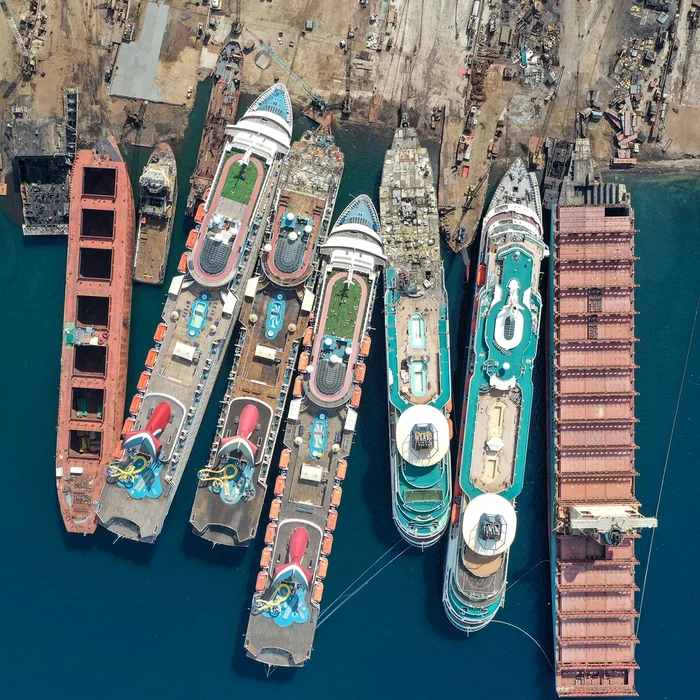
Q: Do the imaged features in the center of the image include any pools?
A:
Yes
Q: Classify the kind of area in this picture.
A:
port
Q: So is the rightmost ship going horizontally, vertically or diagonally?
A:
vertically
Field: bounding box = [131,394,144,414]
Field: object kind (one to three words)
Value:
boat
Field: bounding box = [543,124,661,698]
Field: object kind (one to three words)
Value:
ship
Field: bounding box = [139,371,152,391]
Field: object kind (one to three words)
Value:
boat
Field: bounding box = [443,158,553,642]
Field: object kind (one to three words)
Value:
ship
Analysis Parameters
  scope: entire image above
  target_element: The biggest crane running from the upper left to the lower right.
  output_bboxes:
[245,29,327,113]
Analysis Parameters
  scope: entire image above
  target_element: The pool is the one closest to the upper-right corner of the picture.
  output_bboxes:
[409,312,426,349]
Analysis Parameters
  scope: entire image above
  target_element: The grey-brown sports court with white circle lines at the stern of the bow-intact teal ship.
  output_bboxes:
[463,567,496,592]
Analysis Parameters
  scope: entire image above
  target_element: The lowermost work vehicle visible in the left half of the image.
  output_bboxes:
[117,112,141,133]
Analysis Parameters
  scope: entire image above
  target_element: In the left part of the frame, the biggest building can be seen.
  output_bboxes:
[110,2,172,102]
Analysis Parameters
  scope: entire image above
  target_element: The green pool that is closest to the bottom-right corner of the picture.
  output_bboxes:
[405,487,442,504]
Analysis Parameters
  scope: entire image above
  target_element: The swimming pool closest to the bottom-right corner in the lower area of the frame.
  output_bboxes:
[483,455,498,484]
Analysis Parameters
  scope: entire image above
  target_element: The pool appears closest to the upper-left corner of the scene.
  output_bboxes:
[186,288,211,337]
